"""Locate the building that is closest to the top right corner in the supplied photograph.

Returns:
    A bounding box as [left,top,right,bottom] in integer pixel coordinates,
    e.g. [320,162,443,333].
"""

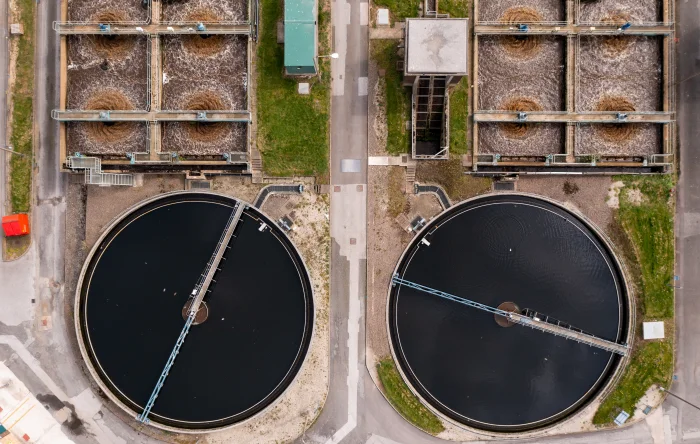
[402,18,468,83]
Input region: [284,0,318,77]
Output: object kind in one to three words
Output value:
shed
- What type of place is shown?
industrial area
